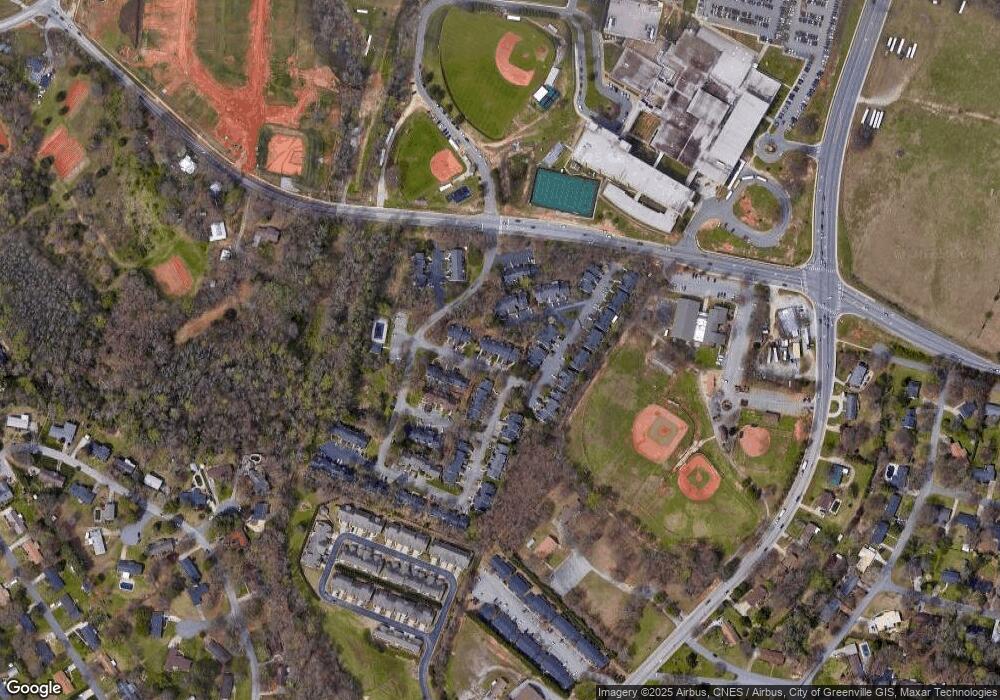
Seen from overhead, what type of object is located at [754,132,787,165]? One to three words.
roundabout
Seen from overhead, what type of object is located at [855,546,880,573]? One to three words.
house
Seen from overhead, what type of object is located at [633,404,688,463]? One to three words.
baseball field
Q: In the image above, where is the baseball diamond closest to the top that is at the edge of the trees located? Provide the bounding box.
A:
[438,7,558,138]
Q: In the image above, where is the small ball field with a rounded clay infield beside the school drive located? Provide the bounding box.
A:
[390,103,468,201]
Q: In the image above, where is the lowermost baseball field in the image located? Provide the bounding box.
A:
[678,454,721,501]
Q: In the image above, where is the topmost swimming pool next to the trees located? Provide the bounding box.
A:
[372,318,388,344]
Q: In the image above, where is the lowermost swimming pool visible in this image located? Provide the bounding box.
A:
[858,640,872,660]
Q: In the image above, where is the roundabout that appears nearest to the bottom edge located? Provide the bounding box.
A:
[728,175,792,248]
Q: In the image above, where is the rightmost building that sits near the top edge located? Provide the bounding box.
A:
[573,26,781,233]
